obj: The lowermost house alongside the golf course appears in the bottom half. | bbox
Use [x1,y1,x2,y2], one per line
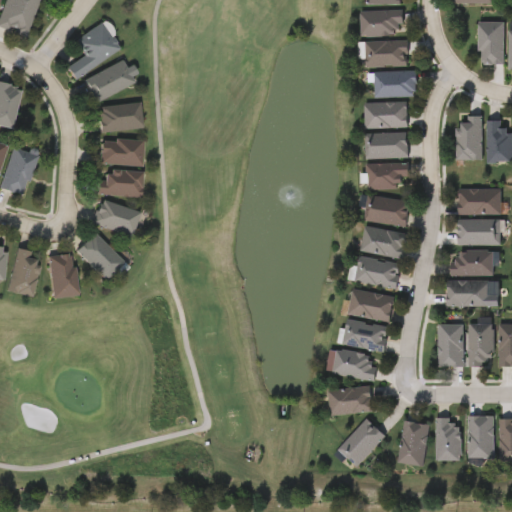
[335,419,386,466]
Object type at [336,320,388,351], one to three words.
house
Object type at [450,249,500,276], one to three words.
house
